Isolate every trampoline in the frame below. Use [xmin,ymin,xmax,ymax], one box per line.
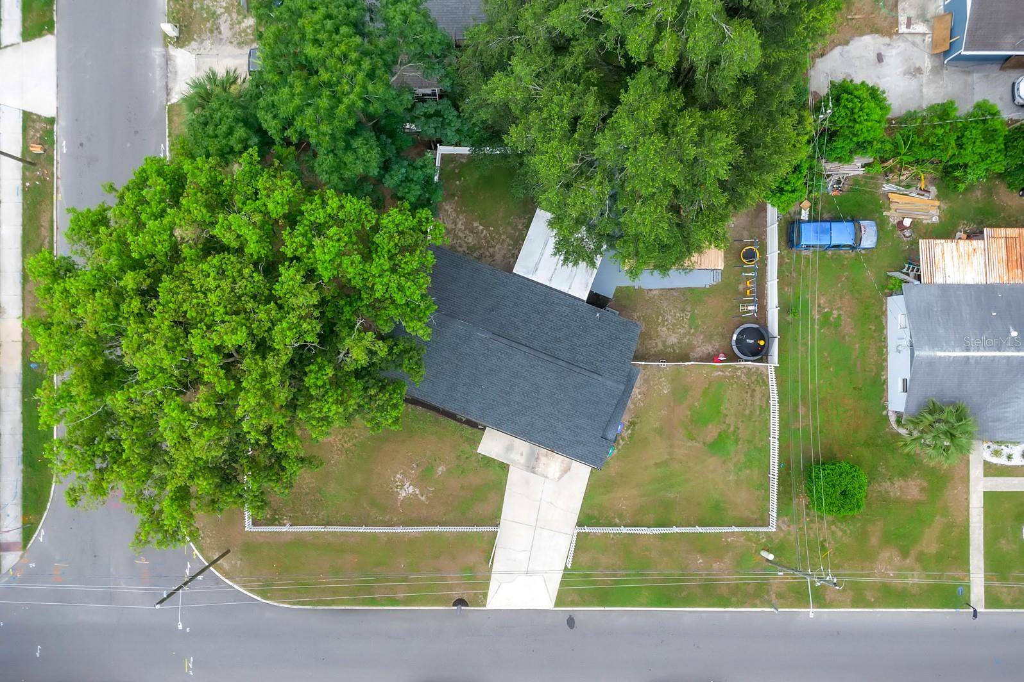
[729,321,774,361]
[740,246,760,265]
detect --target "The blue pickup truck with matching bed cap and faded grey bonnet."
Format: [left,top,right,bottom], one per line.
[786,216,877,252]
